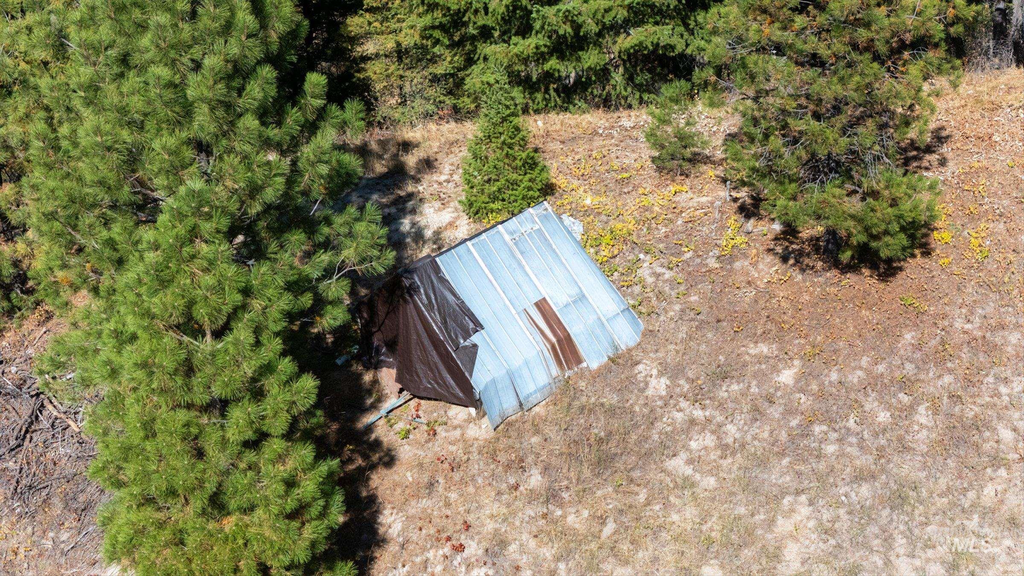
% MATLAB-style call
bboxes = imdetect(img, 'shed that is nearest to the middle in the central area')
[376,198,645,427]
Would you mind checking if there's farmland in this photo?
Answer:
No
